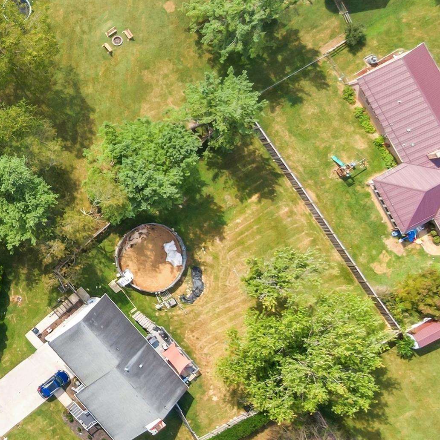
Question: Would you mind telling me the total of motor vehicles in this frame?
1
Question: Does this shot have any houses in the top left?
No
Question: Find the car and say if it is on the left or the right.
left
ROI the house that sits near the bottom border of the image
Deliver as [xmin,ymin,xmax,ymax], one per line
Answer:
[46,294,188,440]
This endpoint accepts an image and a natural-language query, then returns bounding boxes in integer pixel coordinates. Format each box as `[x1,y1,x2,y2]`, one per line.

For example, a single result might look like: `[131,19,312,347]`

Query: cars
[37,370,71,400]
